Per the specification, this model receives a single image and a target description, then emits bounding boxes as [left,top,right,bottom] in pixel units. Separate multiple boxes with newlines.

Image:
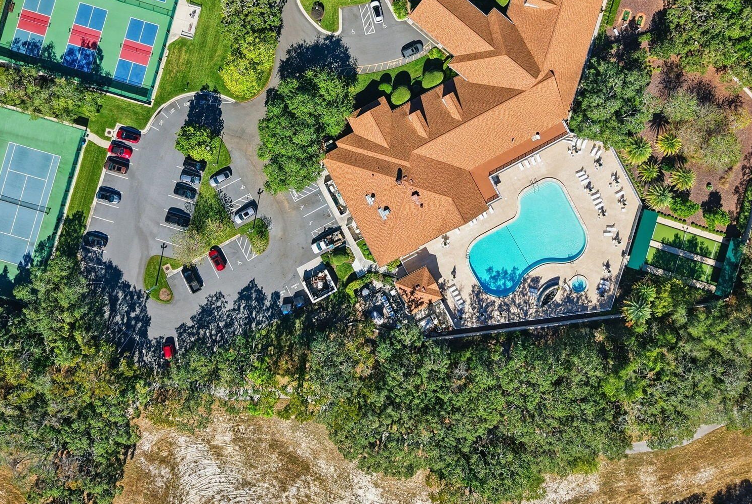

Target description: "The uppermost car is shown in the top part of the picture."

[370,0,384,24]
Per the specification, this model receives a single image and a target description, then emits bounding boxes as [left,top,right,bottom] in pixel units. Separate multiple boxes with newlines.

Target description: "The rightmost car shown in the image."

[400,44,424,59]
